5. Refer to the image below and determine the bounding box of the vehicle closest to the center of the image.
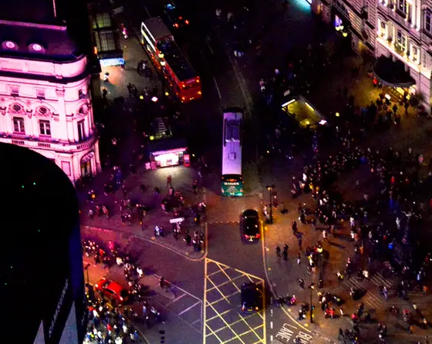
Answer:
[218,122,243,203]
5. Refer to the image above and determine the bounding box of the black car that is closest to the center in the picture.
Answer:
[242,212,261,241]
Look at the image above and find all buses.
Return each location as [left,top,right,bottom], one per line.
[139,34,202,112]
[218,122,243,203]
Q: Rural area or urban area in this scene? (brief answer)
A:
urban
